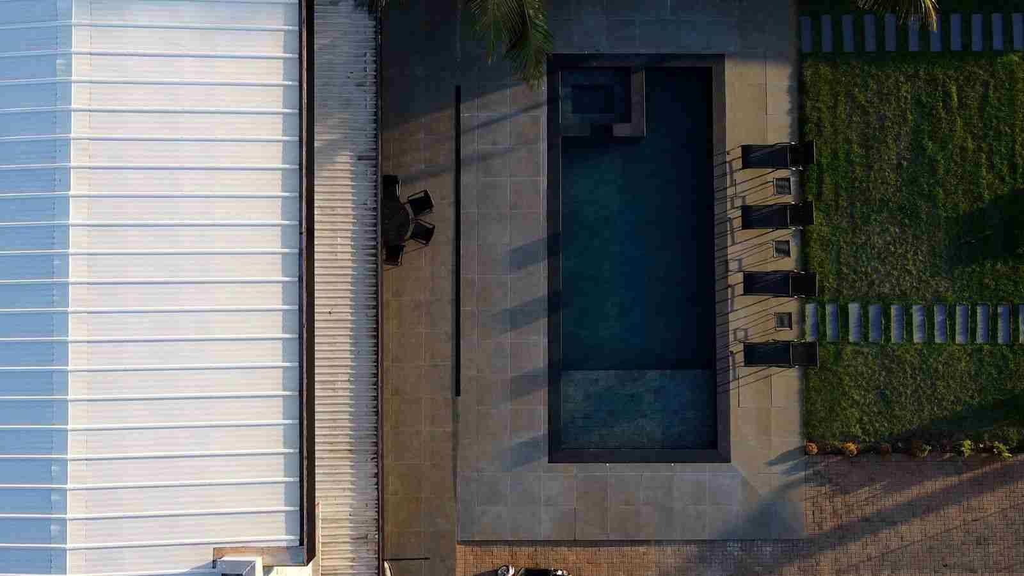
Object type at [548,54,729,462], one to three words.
swimming pool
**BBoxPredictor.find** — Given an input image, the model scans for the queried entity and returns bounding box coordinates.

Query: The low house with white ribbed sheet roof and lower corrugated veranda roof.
[0,0,383,576]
